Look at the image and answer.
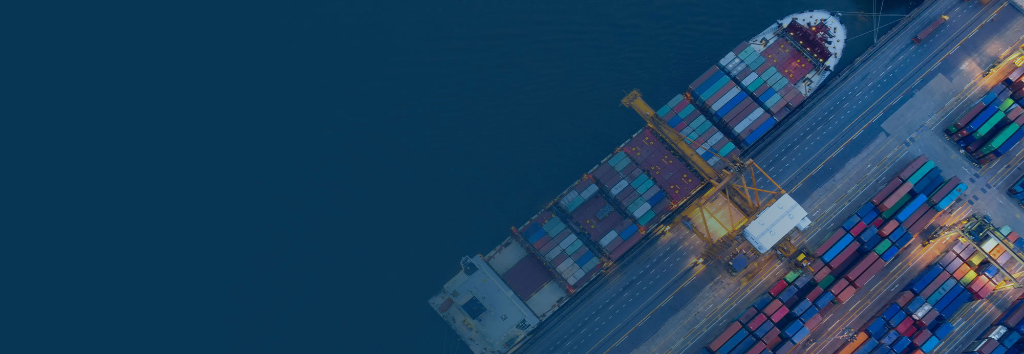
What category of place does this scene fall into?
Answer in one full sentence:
The picture captures a port.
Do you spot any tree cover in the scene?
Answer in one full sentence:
No, the picture contains no tree cover.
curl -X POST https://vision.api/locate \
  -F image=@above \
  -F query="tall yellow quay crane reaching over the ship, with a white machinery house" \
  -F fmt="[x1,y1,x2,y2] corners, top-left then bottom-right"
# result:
[617,83,812,268]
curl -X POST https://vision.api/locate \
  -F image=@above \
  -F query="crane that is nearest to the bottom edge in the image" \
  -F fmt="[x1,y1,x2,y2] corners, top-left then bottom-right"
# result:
[919,213,1024,305]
